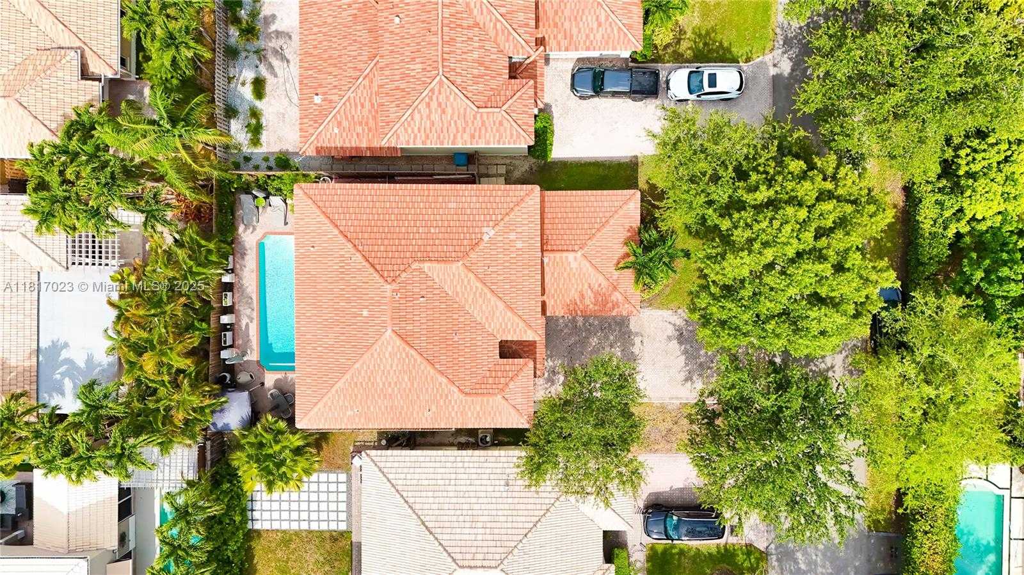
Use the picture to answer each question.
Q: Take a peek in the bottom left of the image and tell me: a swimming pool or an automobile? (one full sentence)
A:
There is a swimming pool in the bottom left of the image.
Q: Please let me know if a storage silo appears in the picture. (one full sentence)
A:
No, no storage silo is visible in the scene.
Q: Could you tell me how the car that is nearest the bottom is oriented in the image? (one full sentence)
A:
What the image shows is the car that is nearest the bottom lying from side to side.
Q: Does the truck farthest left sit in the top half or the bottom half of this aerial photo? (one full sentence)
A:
The top half of the photo is where the truck farthest left is.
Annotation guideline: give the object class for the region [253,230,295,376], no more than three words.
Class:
swimming pool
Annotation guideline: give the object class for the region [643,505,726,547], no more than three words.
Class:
car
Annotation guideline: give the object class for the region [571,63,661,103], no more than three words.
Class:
truck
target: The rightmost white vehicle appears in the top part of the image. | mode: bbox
[666,63,745,103]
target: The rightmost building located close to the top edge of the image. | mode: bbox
[298,0,644,157]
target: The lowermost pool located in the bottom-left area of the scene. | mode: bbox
[156,485,204,575]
